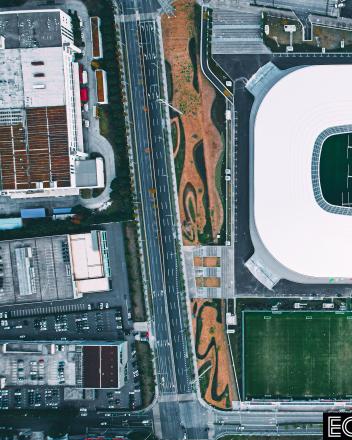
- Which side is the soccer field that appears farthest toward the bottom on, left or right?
right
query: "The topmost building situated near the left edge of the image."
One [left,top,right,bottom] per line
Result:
[0,9,88,198]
